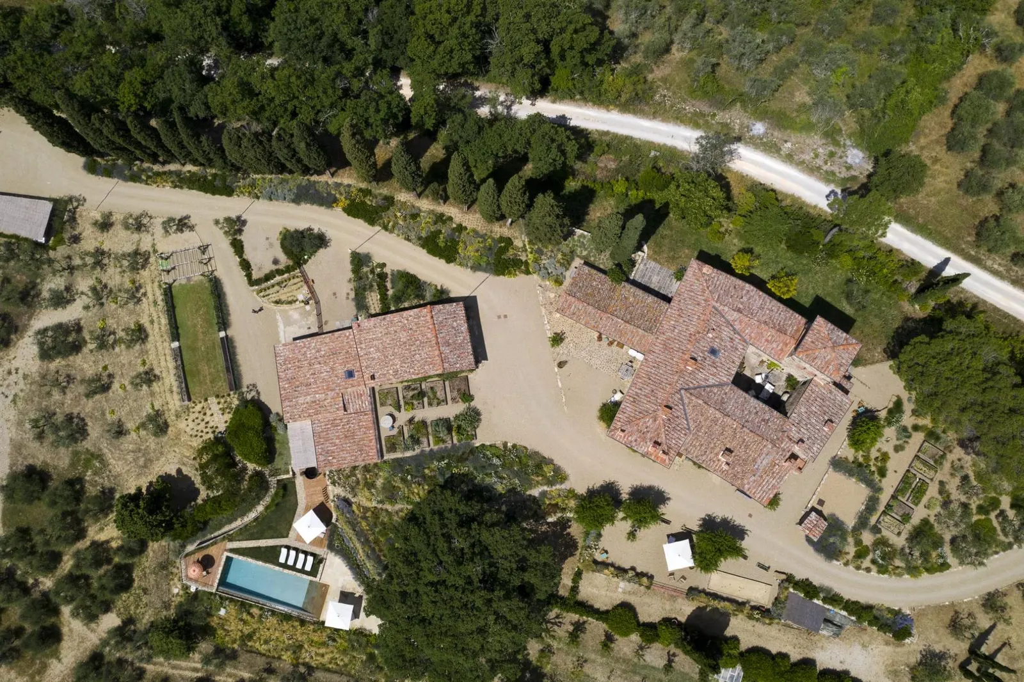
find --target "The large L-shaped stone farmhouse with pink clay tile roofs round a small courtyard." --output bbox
[555,259,863,507]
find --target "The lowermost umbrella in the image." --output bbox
[325,601,354,630]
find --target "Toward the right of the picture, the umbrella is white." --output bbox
[663,539,694,571]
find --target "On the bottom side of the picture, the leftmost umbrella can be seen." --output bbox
[184,561,204,581]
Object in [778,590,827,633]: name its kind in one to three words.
shed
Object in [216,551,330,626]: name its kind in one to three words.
swimming pool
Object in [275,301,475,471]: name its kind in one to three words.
shed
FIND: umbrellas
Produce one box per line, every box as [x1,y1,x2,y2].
[325,601,354,630]
[184,561,204,581]
[663,539,694,571]
[293,509,326,543]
